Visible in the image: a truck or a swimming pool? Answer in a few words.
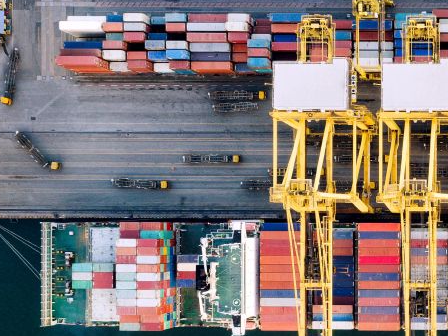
truck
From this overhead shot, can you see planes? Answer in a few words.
No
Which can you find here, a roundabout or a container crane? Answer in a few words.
container crane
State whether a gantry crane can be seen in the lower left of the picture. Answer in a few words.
No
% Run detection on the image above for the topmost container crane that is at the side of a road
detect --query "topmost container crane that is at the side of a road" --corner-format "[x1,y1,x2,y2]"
[352,0,398,81]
